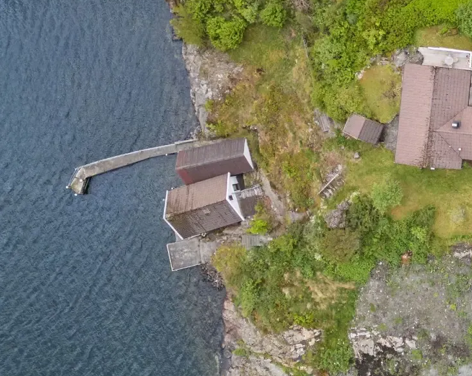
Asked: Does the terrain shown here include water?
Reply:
Yes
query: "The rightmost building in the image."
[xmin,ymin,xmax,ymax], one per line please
[394,65,472,170]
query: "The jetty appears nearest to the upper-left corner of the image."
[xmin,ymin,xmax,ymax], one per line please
[69,140,202,196]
